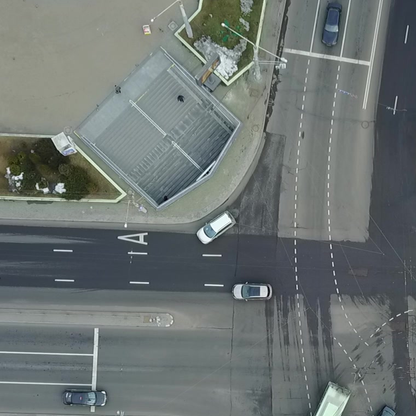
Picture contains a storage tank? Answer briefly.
No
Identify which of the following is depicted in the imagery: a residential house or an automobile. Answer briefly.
automobile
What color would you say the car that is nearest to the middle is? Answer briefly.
white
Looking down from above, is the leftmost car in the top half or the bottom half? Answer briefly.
bottom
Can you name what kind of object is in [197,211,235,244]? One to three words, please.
car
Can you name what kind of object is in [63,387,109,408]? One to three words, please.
car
